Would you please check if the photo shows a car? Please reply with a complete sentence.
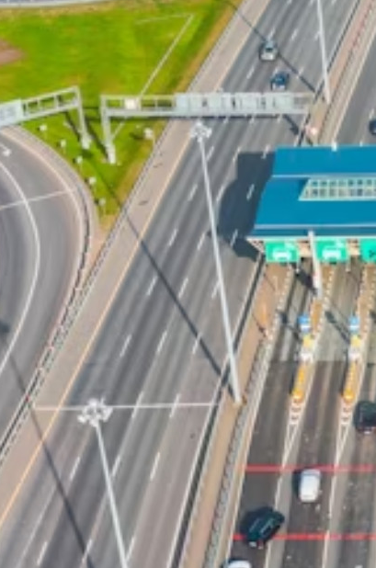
Yes, a car is visible in the scene.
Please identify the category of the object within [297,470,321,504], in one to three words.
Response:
car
